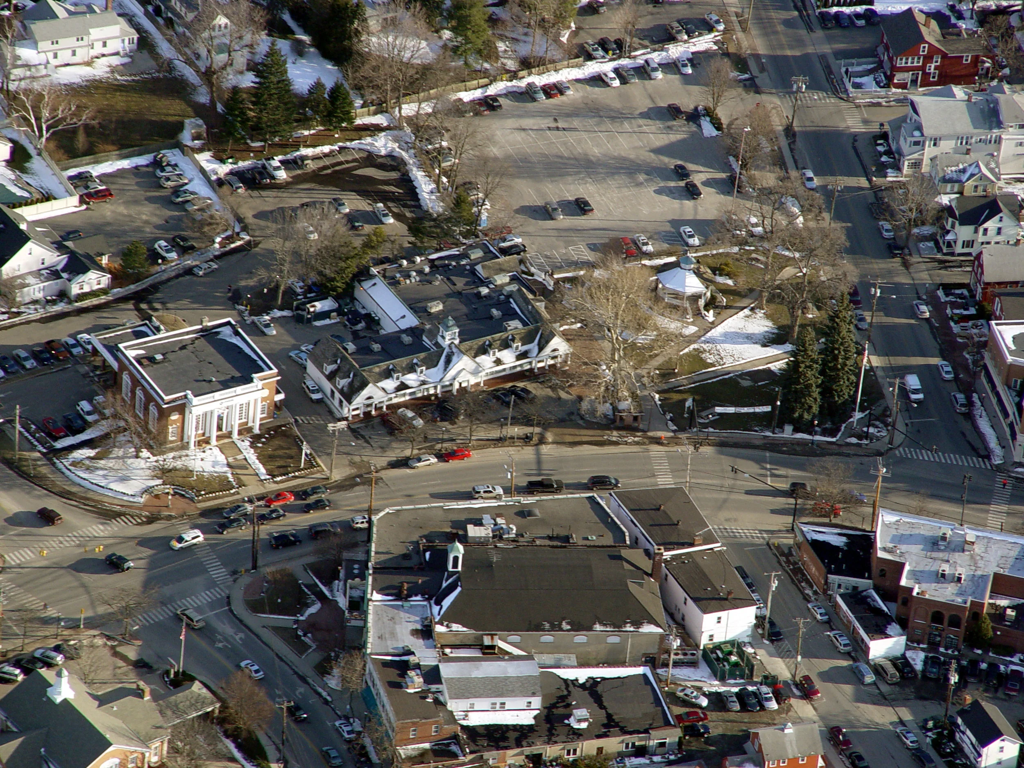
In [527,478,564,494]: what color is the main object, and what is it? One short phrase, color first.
black car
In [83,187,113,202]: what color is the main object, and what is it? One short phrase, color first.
red car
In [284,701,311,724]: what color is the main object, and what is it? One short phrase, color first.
black car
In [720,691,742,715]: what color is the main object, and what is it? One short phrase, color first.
gray car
